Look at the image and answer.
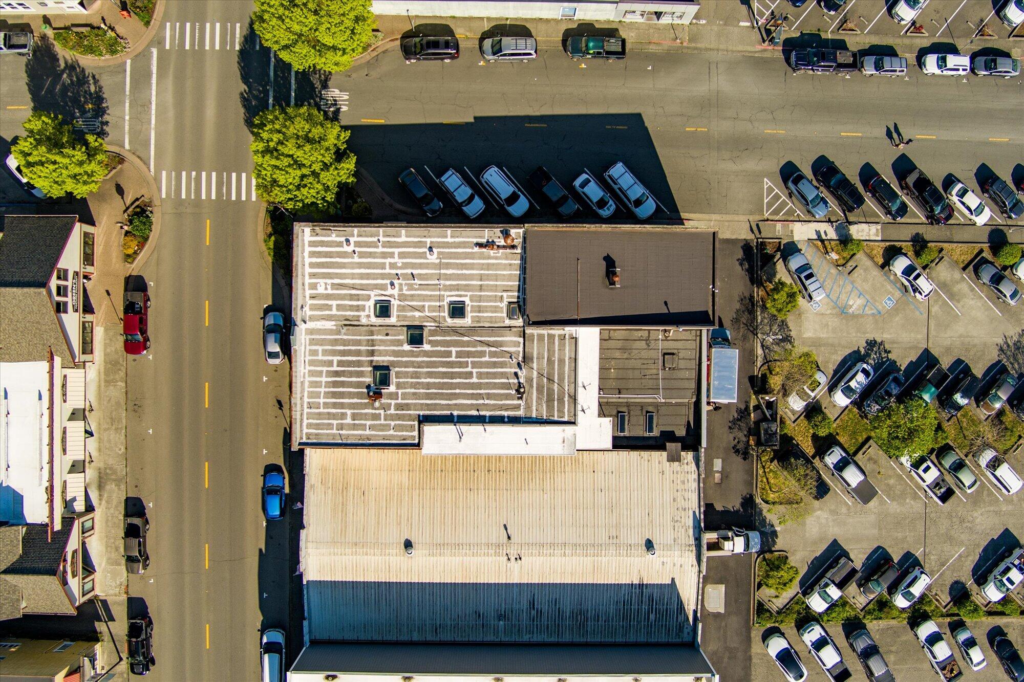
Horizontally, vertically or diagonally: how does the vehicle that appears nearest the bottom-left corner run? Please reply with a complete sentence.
In this picture, the vehicle that appears nearest the bottom-left corner is oriented vertically.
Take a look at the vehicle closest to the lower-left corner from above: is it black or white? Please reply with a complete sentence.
In this view, the vehicle closest to the lower-left corner is black.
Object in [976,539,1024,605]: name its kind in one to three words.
truck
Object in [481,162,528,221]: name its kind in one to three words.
vehicle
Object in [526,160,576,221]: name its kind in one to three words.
truck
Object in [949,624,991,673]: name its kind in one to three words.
car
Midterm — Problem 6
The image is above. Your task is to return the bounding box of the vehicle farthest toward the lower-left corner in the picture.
[124,615,155,676]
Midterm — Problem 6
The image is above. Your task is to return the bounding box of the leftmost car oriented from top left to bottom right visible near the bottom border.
[761,630,811,682]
